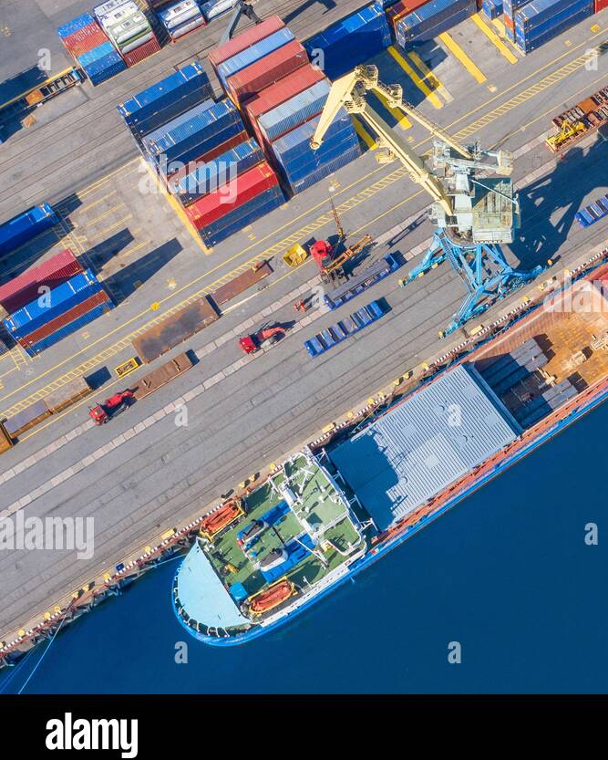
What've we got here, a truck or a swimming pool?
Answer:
truck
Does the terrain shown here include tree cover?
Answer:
No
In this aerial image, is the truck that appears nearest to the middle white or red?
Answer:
red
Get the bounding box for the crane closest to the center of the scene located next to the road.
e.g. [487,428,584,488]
[308,227,371,292]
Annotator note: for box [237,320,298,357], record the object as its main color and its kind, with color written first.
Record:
red truck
